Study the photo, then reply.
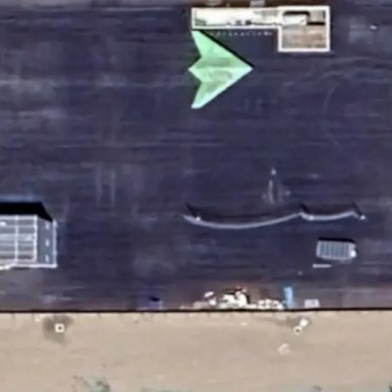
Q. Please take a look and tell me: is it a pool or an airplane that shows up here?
airplane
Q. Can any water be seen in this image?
No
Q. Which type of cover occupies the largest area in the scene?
paved ground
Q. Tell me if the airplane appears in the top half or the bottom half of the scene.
top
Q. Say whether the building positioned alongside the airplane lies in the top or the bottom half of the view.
top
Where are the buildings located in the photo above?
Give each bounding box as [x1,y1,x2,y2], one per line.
[191,7,334,53]
[0,215,55,270]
